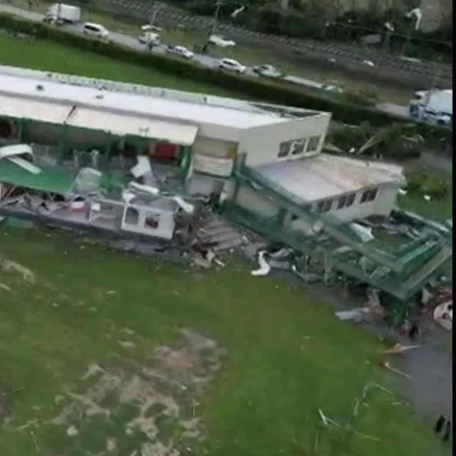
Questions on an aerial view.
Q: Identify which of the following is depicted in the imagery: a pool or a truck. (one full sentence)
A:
There is a truck in the scene.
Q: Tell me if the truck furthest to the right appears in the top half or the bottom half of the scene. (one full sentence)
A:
Seen from above, the truck furthest to the right lies in the top half of the view.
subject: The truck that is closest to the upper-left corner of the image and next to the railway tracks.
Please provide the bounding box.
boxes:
[44,3,82,27]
